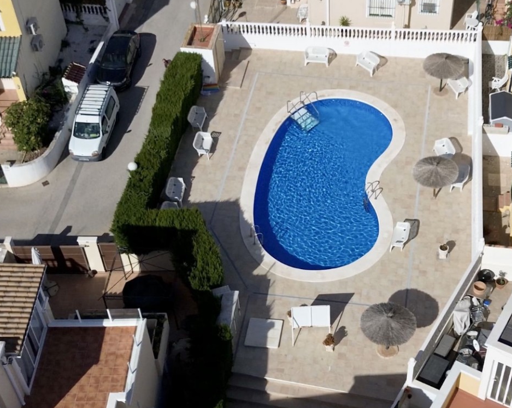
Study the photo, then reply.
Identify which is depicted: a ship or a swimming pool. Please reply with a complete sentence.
Looking from above, you can make out a swimming pool.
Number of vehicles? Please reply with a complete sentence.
My tally gives 2 vehicles in this view.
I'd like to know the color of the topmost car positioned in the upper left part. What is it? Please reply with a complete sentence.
The topmost car positioned in the upper left part looks black in the image.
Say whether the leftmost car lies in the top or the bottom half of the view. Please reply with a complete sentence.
Seen from above, the leftmost car lies in the top half of the view.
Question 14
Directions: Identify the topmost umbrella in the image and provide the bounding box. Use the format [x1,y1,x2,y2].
[421,47,468,95]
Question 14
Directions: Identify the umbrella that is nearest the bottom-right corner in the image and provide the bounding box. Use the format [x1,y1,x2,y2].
[360,296,421,358]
